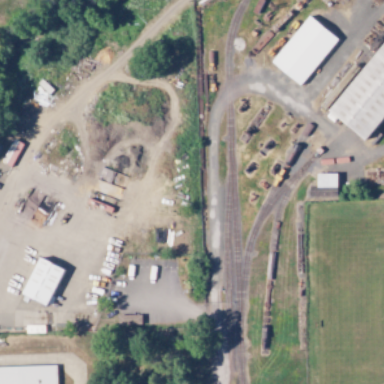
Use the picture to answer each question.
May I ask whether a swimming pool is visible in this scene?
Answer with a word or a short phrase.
No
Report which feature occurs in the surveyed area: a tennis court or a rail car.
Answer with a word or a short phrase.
rail car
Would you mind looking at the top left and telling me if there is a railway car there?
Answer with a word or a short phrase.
No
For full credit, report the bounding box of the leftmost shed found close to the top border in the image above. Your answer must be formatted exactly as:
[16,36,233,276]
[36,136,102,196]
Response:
[273,16,339,85]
